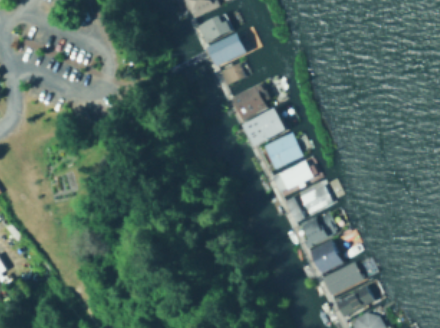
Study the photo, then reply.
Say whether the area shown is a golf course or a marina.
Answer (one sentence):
The area seen from above is a marina.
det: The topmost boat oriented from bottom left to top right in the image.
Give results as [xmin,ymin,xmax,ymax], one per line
[347,246,363,258]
